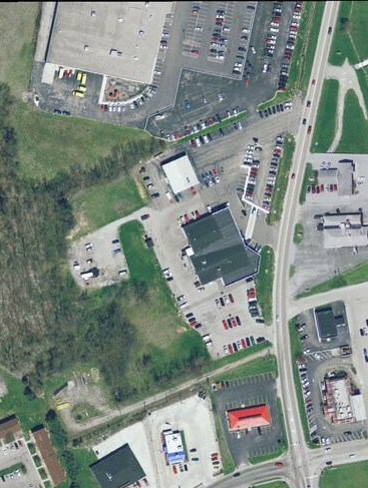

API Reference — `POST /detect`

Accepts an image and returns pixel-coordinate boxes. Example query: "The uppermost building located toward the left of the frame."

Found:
[47,0,172,84]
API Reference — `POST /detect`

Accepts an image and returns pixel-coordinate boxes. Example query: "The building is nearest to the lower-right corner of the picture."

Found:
[324,376,366,424]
